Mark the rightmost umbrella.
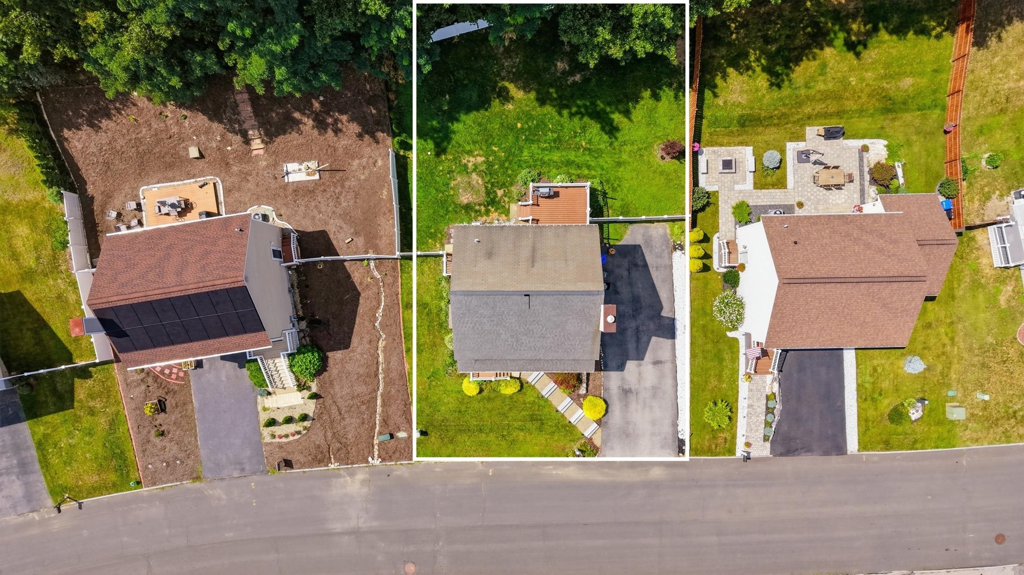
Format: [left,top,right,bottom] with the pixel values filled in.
[797,143,837,163]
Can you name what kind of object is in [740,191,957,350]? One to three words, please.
house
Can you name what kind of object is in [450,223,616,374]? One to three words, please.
house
